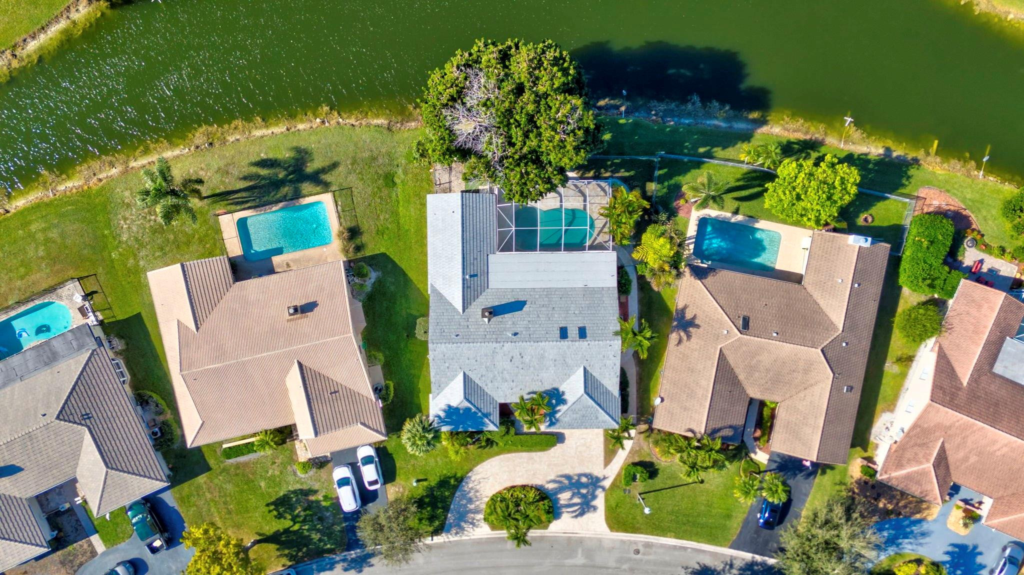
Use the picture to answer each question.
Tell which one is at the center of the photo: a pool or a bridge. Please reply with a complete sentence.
The one visible at the center of the photo is a pool.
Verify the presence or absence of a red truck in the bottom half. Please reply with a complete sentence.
No, looking in the bottom half, there is no red truck.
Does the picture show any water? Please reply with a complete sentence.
Yes, water shows up in the scene.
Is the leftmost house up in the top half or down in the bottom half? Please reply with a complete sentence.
Seen from above, the leftmost house lies in the bottom half of the view.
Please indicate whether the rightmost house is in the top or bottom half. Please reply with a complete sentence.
The bottom half of the photo is where the rightmost house is.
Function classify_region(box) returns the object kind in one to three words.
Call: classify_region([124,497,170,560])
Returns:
truck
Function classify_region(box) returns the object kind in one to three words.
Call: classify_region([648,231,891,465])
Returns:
house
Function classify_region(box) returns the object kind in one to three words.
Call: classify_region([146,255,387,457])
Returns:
house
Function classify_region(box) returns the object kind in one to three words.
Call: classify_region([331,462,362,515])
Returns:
car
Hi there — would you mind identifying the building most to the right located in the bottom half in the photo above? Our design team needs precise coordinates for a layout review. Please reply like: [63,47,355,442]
[870,279,1024,541]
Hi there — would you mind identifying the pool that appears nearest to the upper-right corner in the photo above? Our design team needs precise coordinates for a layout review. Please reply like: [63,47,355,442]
[691,213,785,275]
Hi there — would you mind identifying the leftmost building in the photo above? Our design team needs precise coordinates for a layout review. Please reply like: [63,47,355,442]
[0,322,176,572]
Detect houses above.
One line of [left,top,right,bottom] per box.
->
[648,231,891,465]
[870,279,1024,541]
[0,322,176,572]
[146,255,387,457]
[426,192,622,432]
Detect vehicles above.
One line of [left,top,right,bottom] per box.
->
[989,539,1024,575]
[99,561,140,575]
[124,497,170,560]
[756,479,789,532]
[331,462,362,515]
[354,443,384,494]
